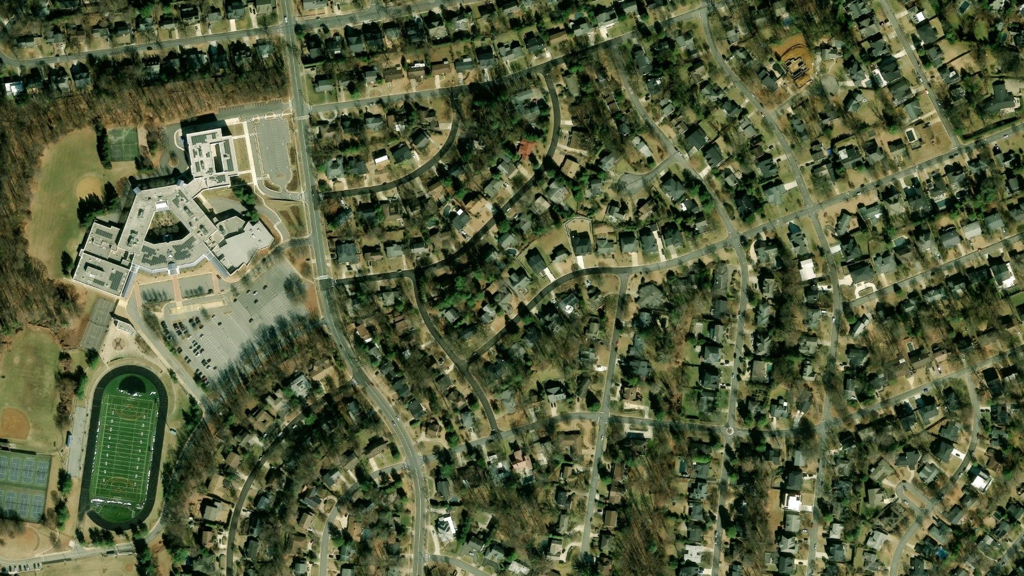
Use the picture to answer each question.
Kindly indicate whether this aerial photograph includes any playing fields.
Yes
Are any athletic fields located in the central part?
No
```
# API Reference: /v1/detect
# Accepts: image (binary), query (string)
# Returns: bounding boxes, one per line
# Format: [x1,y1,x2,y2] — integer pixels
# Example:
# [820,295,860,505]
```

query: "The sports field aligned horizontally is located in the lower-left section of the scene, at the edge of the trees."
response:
[42,553,139,576]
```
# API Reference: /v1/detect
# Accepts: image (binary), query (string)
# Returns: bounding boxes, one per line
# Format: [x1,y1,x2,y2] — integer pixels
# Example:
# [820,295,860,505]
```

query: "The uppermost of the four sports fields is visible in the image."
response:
[26,128,137,282]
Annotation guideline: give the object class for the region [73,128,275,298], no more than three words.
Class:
building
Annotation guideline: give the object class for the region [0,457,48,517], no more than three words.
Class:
tennis court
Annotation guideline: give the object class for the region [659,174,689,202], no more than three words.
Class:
house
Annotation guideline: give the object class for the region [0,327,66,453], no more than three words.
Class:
sports field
